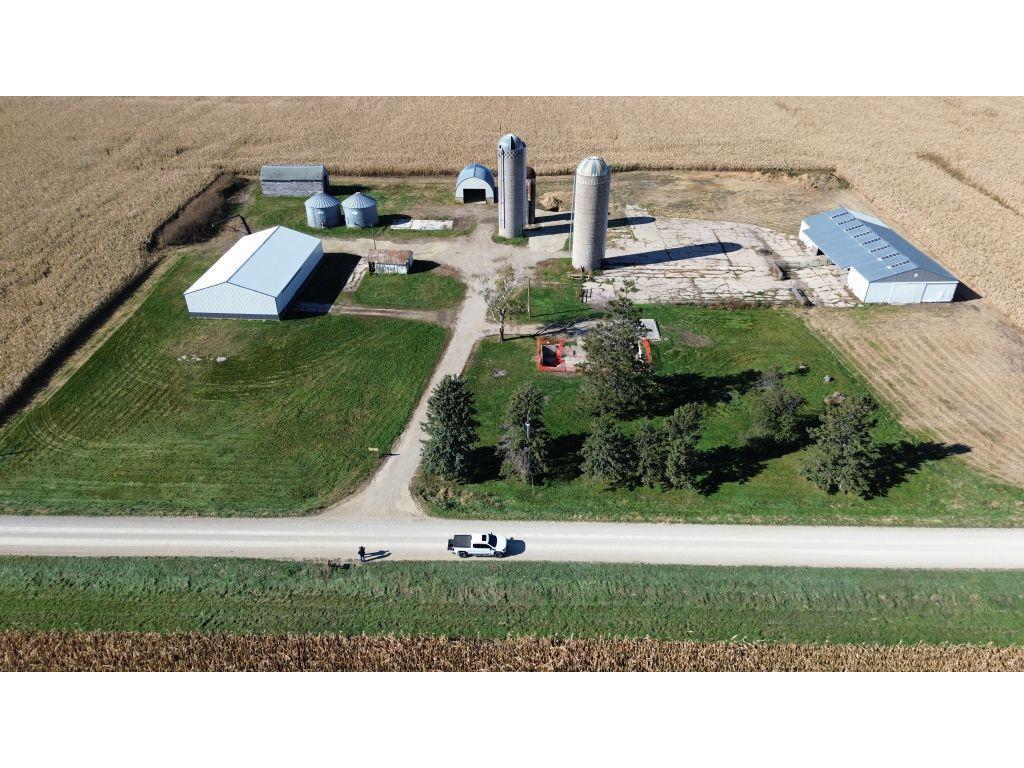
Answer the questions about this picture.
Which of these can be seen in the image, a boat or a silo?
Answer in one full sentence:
Of the two, only a silo appears.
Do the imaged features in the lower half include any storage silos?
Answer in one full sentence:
No, there's no storage silo to be seen in the lower half.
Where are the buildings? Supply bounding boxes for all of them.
[801,205,962,302]
[258,163,332,195]
[368,247,412,274]
[456,162,495,203]
[182,220,326,321]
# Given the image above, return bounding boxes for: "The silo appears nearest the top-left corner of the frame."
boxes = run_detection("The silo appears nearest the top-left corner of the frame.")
[303,193,341,229]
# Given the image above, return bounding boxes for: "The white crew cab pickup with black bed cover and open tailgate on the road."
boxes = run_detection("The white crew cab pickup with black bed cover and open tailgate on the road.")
[448,532,508,559]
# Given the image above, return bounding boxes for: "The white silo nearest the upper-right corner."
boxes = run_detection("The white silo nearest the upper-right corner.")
[569,157,612,272]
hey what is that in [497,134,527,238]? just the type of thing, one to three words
silo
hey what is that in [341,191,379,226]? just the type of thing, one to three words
silo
